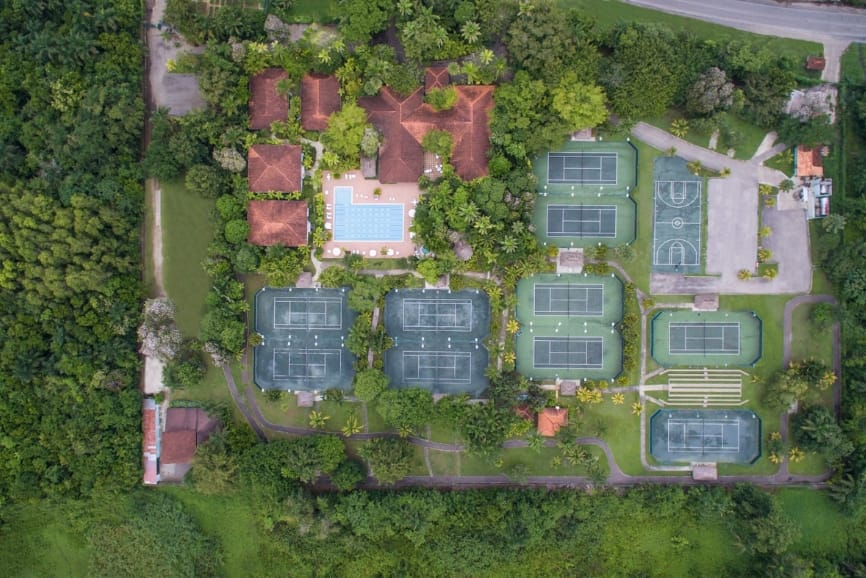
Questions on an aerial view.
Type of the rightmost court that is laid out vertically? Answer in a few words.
basketball court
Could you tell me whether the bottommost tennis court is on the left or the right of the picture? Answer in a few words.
right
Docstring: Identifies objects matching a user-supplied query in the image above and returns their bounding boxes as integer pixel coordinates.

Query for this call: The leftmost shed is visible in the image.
[141,399,160,485]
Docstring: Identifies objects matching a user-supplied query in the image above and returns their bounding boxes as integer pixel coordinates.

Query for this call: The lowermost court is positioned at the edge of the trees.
[651,410,760,464]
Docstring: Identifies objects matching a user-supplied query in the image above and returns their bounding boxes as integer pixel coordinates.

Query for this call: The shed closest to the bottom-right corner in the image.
[689,463,718,480]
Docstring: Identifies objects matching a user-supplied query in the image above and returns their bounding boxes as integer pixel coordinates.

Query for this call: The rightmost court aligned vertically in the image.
[653,155,702,272]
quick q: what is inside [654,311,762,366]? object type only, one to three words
tennis court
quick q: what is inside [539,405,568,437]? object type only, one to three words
house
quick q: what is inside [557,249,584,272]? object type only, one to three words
shed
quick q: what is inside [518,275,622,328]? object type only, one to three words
tennis court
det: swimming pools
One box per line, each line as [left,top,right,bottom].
[333,185,404,242]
